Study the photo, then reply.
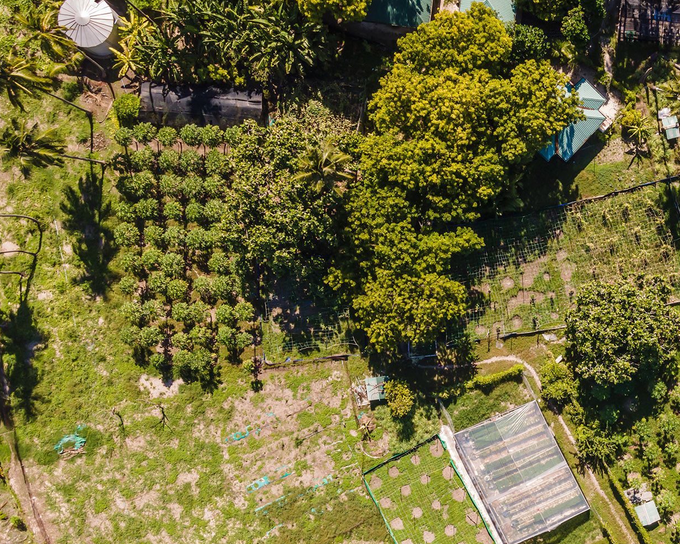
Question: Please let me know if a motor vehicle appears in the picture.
No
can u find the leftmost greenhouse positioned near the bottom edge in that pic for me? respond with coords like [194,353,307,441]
[455,400,590,544]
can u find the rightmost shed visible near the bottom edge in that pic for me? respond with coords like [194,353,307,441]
[633,501,663,526]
